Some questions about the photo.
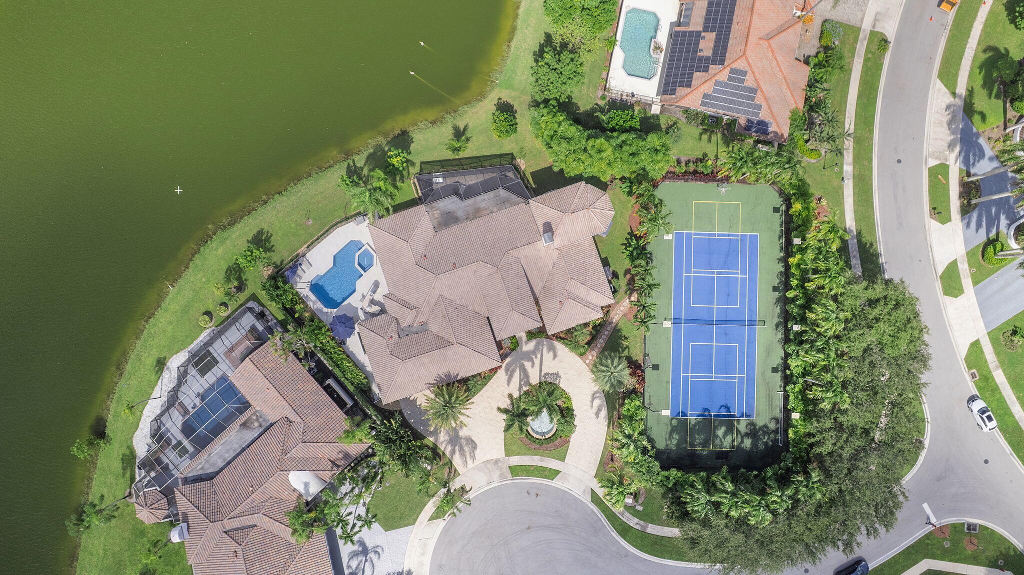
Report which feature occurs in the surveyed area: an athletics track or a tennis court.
tennis court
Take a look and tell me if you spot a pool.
Yes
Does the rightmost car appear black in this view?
No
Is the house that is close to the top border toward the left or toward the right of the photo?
right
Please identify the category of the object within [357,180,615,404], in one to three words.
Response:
house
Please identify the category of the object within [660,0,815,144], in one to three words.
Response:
house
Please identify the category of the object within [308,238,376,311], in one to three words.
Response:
swimming pool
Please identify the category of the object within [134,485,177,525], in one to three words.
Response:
gazebo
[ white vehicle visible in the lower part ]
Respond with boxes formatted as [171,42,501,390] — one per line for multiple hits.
[967,397,1000,434]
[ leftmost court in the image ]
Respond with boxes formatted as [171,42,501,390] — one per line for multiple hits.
[644,182,787,469]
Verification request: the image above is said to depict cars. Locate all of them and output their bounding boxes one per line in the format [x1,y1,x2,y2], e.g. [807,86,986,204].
[967,397,1000,434]
[831,559,868,575]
